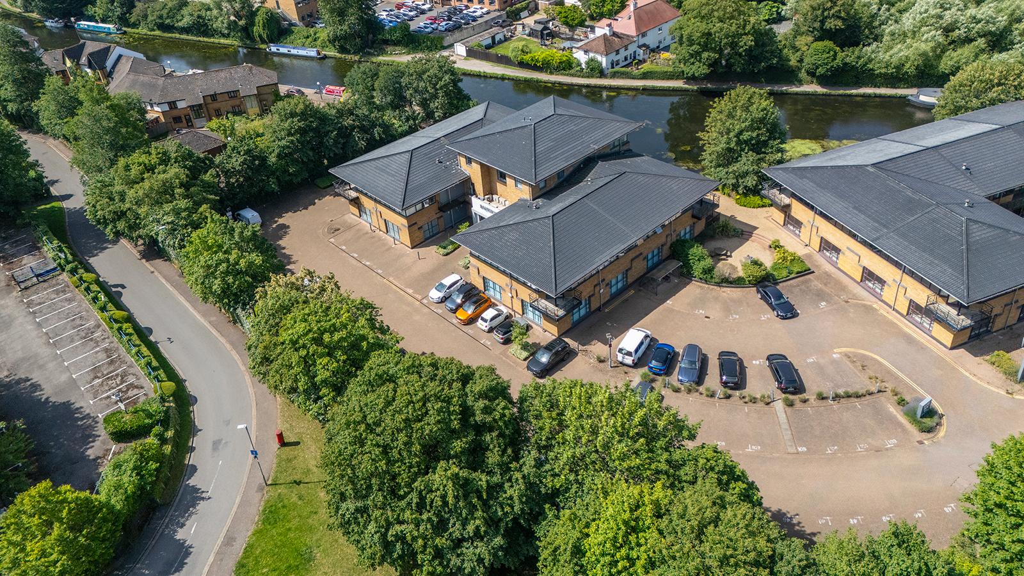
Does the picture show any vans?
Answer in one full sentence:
Yes, a van appears in the view.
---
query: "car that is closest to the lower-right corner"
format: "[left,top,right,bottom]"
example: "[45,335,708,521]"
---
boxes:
[764,353,803,397]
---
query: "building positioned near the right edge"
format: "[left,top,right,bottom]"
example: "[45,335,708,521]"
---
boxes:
[766,95,1024,349]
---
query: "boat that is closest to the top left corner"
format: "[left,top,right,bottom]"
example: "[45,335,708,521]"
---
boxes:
[40,17,68,30]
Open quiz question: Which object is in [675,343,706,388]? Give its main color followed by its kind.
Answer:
blue car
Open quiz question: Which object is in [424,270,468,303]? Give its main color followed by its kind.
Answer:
white car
